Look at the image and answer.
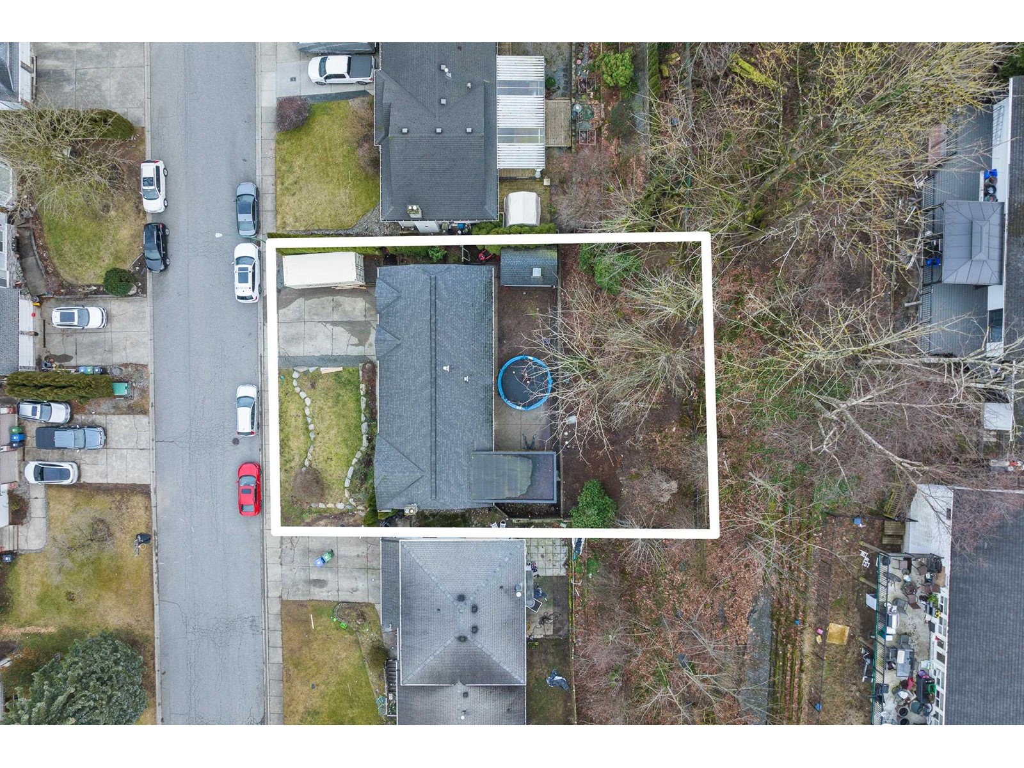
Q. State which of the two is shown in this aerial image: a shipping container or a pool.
shipping container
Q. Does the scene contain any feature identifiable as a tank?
No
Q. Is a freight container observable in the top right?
No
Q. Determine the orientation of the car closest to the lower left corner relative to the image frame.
horizontally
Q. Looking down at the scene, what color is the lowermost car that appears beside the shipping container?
white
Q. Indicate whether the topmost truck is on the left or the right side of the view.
left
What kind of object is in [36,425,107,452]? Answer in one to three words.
truck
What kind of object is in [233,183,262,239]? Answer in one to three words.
car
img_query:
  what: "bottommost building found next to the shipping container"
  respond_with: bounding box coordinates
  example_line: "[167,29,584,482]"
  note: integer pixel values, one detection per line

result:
[374,265,494,512]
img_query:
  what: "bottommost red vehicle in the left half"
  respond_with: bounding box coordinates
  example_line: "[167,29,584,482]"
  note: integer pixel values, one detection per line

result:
[236,463,264,515]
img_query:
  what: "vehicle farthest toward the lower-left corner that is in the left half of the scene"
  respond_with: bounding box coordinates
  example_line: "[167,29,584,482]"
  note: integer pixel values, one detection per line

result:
[27,460,83,486]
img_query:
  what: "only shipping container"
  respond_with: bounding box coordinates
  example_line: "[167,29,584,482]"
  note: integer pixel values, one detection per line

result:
[283,252,363,289]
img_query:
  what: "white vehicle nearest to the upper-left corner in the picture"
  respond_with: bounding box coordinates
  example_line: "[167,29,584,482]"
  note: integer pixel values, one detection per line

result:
[138,161,169,214]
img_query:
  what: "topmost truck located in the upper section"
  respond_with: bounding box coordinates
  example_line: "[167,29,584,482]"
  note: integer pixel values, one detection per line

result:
[309,53,376,86]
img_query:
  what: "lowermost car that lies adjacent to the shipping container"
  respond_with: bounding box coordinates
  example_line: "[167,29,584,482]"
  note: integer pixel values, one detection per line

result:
[232,245,262,303]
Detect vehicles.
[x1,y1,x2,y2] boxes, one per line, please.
[19,401,75,426]
[236,463,264,515]
[141,223,172,274]
[233,183,262,239]
[309,53,376,86]
[233,385,261,436]
[27,460,83,486]
[138,161,169,214]
[36,425,107,452]
[52,305,110,331]
[232,245,262,303]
